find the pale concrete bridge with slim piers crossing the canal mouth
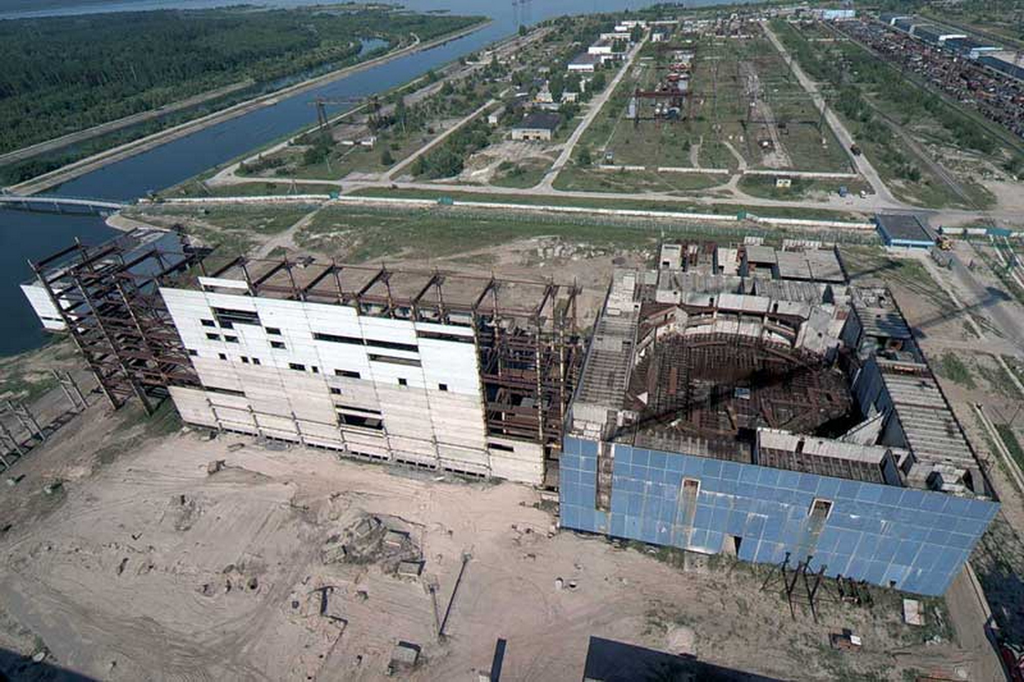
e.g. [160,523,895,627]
[0,192,130,215]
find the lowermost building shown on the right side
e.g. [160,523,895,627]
[563,266,999,594]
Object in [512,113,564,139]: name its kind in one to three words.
building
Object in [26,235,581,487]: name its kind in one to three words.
building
